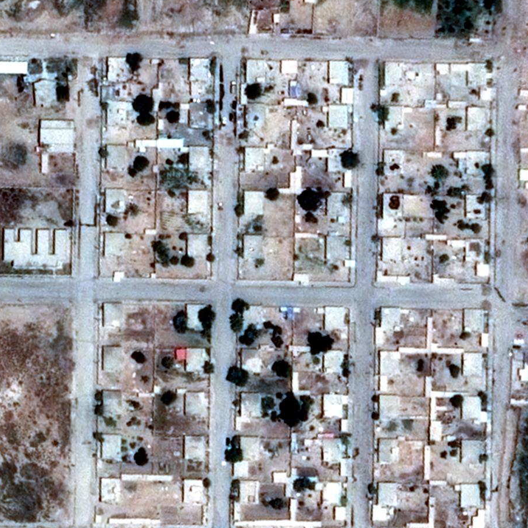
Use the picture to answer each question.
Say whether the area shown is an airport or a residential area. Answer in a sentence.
The area seen from above is a residential area.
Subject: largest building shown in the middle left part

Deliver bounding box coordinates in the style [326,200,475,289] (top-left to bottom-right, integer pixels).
[4,229,69,268]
